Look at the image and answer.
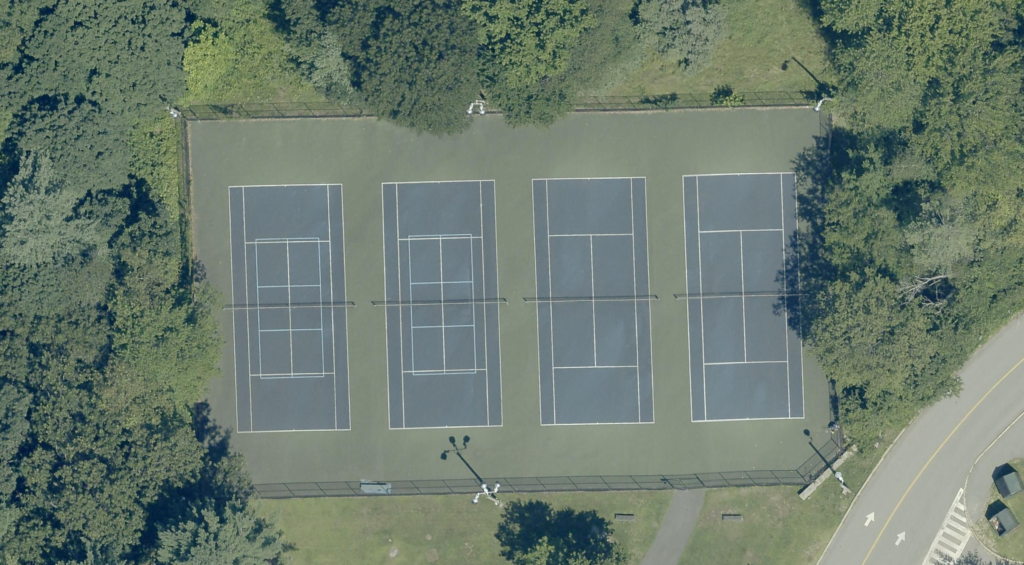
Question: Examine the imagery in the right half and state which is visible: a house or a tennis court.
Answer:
tennis court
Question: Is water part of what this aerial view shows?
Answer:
No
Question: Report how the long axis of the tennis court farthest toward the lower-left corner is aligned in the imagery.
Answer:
from top to bottom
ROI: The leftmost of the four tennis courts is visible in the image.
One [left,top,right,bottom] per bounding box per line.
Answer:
[229,184,351,433]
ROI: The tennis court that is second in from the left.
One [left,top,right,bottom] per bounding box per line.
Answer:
[382,180,503,429]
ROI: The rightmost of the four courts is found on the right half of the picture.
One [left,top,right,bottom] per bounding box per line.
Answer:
[682,172,805,422]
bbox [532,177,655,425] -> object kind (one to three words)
tennis court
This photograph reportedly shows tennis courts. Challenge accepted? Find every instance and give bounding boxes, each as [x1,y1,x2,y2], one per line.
[532,177,655,425]
[229,184,351,433]
[682,172,805,422]
[382,180,503,429]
